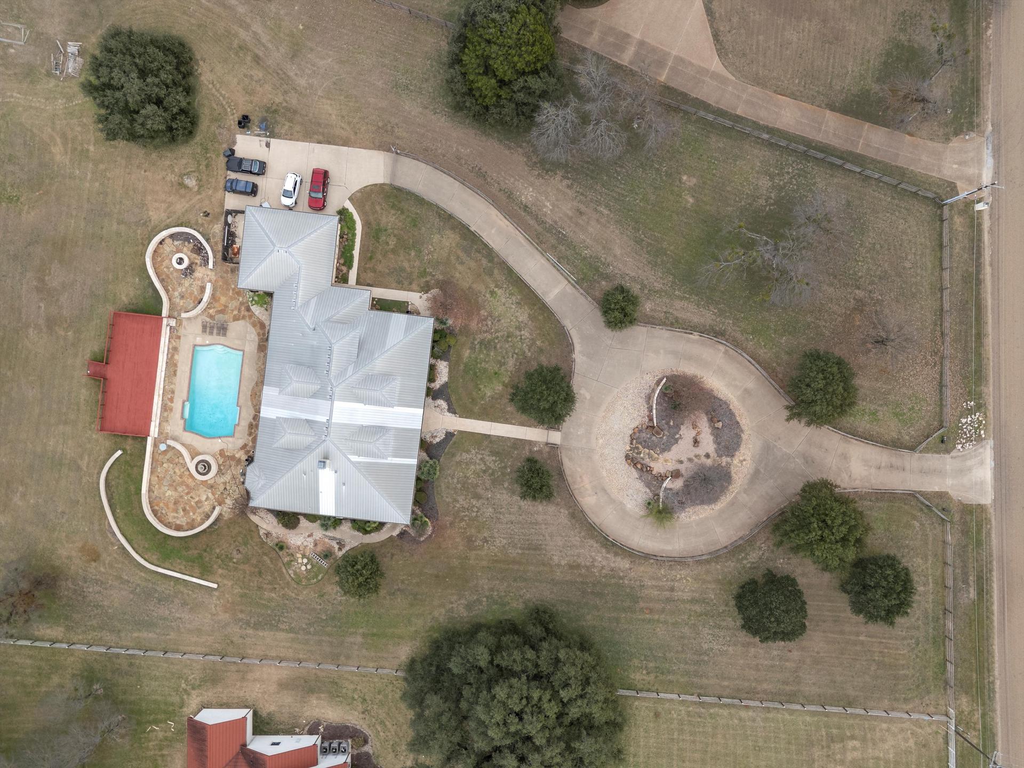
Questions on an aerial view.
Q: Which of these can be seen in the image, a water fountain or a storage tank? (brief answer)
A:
water fountain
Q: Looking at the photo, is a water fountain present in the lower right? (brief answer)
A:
No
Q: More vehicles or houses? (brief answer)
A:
vehicles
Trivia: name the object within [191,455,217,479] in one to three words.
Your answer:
fountain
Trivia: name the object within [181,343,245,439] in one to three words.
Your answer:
swimming pool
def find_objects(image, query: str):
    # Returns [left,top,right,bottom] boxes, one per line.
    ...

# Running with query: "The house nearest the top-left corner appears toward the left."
[236,204,434,525]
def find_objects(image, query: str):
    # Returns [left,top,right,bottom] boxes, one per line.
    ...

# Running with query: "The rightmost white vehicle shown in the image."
[281,172,303,210]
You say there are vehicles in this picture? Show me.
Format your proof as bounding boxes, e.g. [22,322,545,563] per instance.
[225,178,261,198]
[225,157,269,177]
[281,172,303,210]
[308,168,330,212]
